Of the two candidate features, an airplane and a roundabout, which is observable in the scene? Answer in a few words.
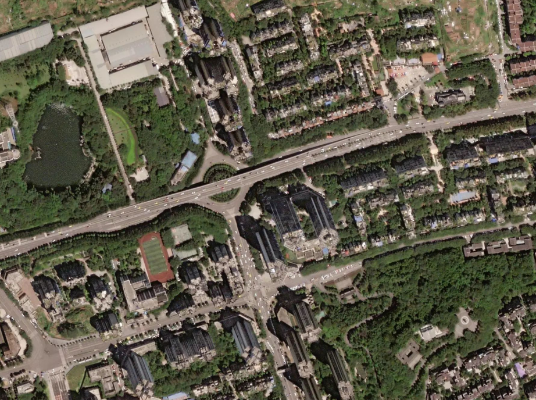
roundabout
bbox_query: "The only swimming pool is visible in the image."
[450,188,480,205]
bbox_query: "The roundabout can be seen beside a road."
[191,150,251,215]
